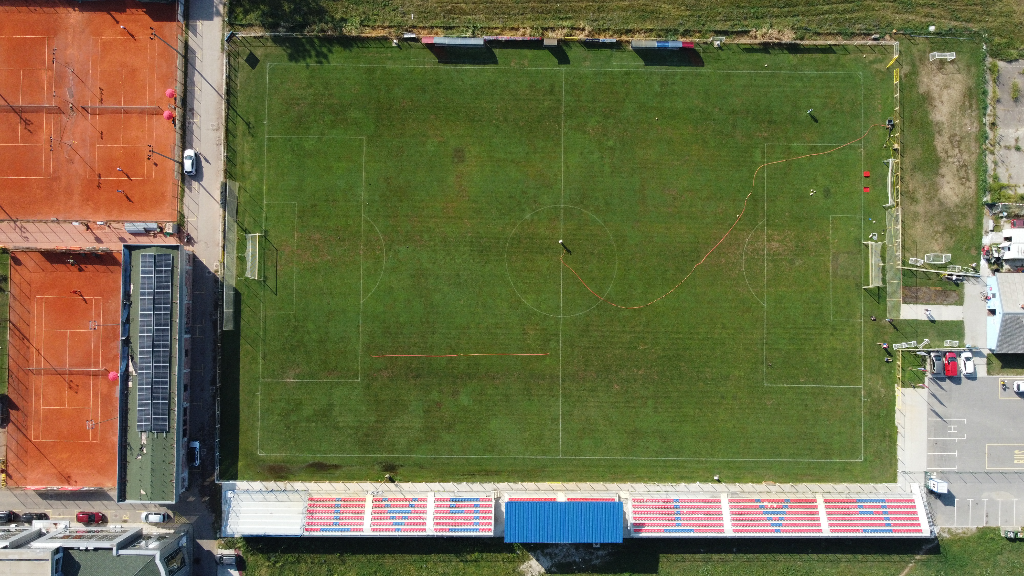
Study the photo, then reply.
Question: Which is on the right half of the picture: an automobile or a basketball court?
automobile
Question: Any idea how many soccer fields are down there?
1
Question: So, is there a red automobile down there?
Yes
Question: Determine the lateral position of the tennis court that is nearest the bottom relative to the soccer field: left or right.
to its left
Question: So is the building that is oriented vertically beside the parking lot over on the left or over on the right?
right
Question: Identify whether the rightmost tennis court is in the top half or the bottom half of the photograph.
top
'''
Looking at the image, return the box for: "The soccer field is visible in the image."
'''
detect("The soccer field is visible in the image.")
[218,36,898,483]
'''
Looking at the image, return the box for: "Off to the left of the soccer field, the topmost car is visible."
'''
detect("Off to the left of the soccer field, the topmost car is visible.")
[182,150,197,175]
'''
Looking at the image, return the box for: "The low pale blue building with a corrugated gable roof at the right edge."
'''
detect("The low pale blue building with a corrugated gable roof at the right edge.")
[985,272,1024,354]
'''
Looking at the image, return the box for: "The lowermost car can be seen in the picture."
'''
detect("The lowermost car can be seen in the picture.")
[215,552,239,567]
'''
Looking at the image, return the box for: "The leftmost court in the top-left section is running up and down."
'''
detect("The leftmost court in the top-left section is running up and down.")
[0,0,70,221]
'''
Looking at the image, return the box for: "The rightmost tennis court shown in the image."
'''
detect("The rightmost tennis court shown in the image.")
[67,0,178,223]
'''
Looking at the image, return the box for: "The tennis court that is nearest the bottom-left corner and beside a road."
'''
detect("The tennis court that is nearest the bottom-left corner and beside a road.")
[6,251,123,487]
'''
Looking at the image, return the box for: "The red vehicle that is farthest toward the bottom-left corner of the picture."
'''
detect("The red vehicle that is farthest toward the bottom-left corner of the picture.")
[75,510,105,525]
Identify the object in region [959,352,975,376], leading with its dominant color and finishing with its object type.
white car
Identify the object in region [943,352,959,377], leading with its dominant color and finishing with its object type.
red car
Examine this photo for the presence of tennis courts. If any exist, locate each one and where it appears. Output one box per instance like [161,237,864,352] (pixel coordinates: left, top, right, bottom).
[0,0,70,221]
[67,0,178,223]
[6,251,123,487]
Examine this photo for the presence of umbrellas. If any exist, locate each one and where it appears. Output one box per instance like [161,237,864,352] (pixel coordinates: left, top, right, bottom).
[108,370,120,382]
[165,88,177,100]
[163,110,176,121]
